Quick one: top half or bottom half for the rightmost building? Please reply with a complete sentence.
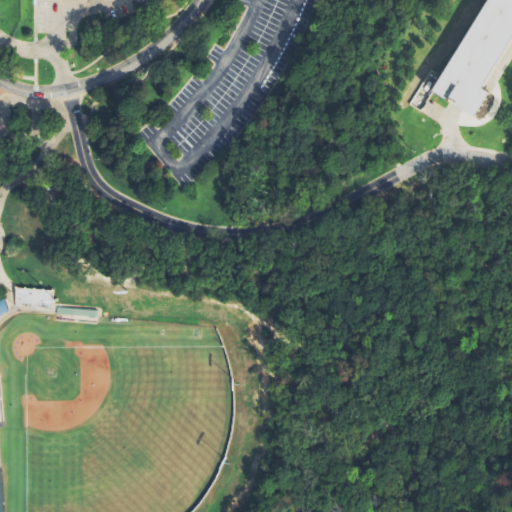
The rightmost building is in the top half of the image.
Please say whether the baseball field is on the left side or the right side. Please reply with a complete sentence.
The baseball field appears in the left half of the scene.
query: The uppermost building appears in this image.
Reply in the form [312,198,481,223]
[431,0,512,117]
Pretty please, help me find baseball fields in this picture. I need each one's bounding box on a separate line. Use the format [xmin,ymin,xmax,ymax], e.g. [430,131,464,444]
[12,330,233,512]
